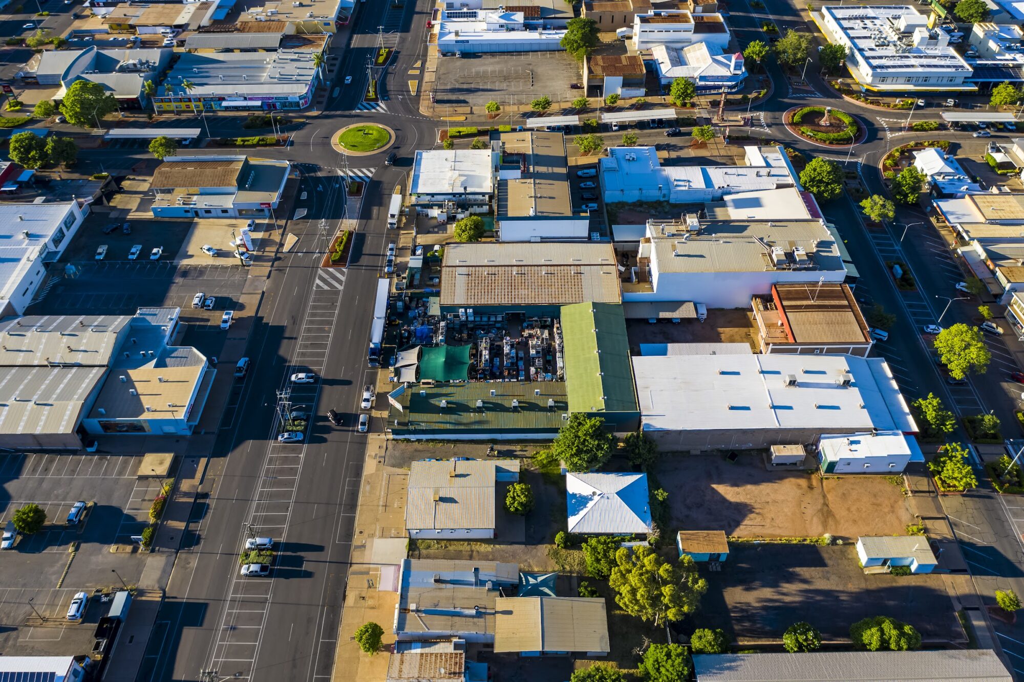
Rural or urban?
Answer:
urban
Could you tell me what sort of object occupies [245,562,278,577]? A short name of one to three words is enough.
vehicle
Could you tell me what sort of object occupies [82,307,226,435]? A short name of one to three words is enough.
building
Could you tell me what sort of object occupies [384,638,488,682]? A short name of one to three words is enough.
shed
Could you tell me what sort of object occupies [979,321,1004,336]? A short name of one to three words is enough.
car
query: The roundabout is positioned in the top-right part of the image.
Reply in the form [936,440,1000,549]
[782,104,870,149]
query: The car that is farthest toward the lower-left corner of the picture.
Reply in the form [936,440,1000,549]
[63,592,91,622]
